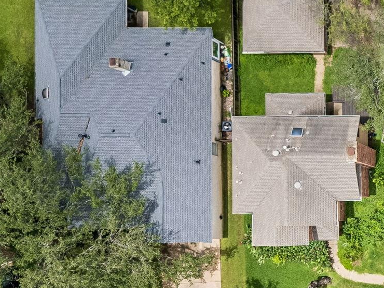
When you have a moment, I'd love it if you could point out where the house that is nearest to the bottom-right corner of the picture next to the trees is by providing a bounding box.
[231,93,379,246]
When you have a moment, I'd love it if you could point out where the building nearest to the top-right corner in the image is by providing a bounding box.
[242,0,329,55]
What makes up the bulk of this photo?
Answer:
buildings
